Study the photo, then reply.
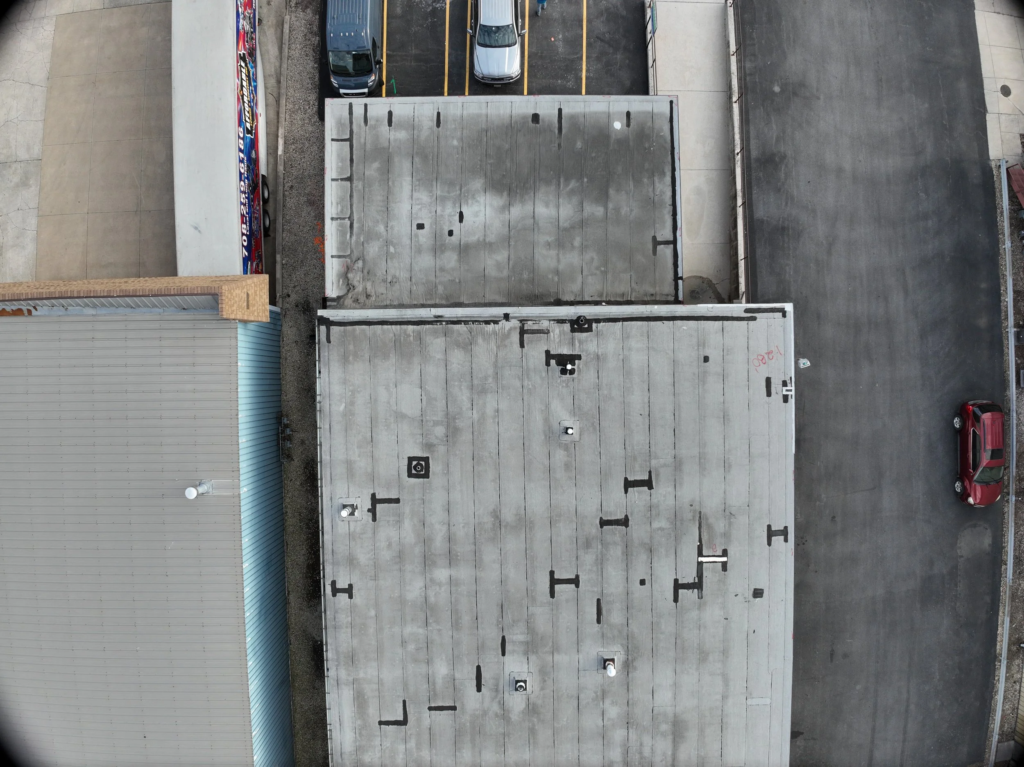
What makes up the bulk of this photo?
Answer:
buildings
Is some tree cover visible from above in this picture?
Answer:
No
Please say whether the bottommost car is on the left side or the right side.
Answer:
right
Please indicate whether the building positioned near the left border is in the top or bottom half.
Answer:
bottom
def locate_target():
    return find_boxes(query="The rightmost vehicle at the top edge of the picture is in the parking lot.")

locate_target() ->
[467,0,527,87]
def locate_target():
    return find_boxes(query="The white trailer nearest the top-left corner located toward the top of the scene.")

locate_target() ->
[173,0,274,277]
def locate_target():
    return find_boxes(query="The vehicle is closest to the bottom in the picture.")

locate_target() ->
[948,400,1010,508]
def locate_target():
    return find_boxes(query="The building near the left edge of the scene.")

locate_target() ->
[0,271,300,767]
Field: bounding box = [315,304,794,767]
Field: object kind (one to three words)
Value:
building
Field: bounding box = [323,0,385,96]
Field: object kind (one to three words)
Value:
van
